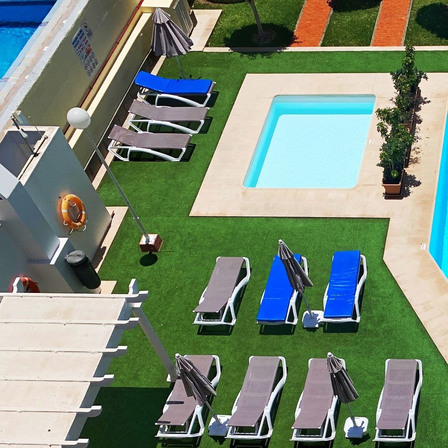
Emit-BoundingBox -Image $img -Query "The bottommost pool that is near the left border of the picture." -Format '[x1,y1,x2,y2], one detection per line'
[0,3,54,77]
